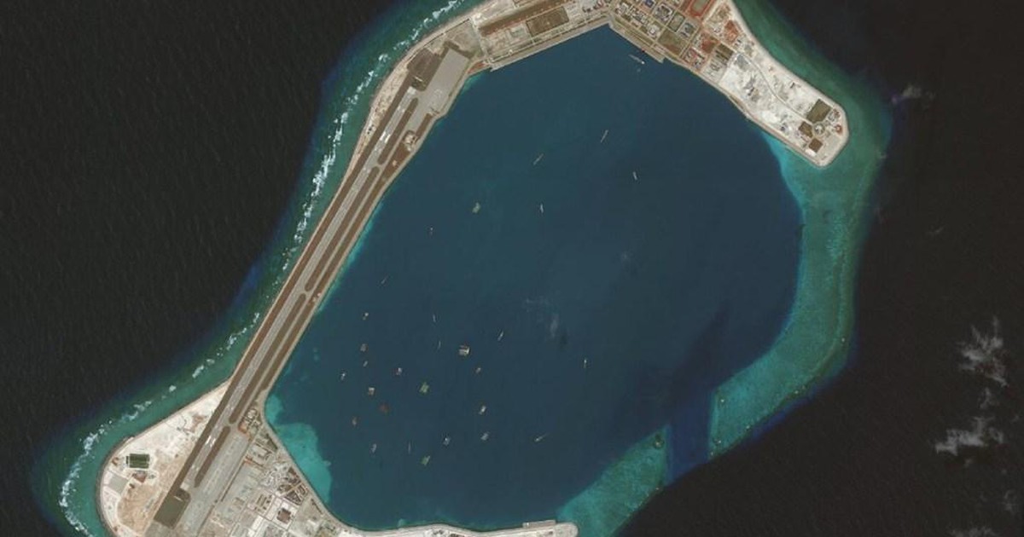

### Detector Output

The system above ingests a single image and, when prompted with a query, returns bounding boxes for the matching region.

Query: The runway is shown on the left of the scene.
[179,84,418,492]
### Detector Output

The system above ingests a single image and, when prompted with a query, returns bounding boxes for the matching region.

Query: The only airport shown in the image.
[154,43,471,537]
